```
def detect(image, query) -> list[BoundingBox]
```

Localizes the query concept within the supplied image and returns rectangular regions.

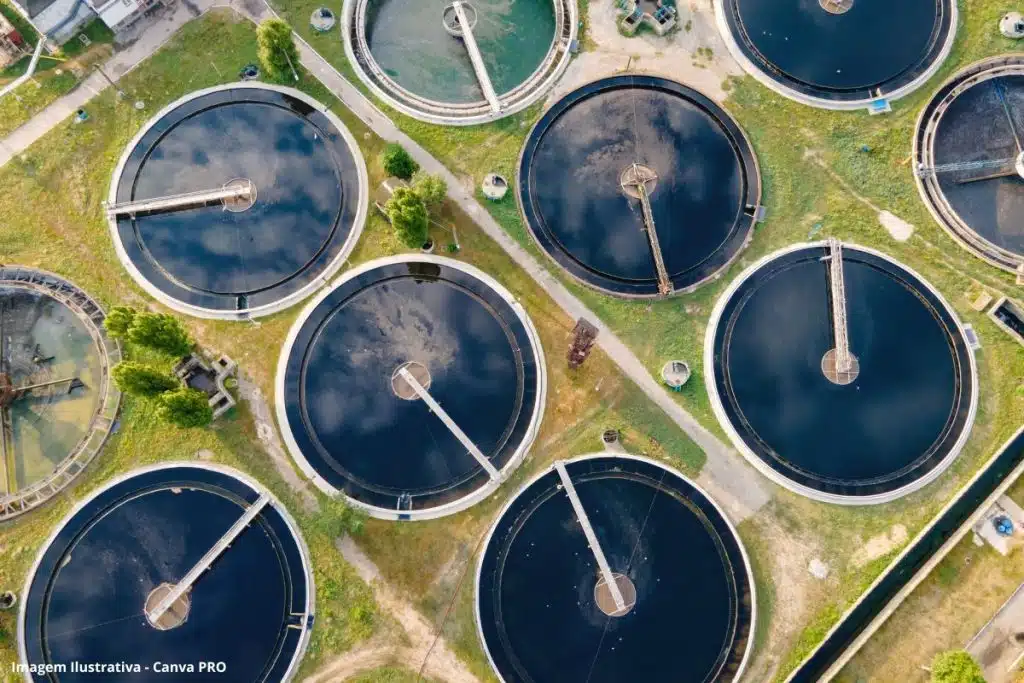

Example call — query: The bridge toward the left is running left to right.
[106,182,254,219]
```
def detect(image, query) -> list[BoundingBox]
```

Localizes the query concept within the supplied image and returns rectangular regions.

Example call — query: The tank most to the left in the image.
[0,266,123,522]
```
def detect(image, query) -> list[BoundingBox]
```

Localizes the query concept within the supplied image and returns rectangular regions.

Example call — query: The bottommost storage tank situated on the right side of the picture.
[475,453,757,683]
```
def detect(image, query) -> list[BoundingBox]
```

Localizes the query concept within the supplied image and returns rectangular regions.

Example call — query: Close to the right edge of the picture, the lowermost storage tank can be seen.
[704,237,979,506]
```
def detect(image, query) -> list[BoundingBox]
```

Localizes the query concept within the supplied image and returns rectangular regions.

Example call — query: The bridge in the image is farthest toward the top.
[452,2,503,117]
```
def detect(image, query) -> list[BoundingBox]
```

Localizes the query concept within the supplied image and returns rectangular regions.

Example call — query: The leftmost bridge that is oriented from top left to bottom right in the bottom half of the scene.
[399,366,504,486]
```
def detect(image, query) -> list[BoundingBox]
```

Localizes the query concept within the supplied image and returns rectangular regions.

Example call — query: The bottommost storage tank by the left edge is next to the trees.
[17,462,317,683]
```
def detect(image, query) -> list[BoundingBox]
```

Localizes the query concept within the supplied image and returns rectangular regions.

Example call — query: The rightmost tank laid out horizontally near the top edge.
[711,0,958,109]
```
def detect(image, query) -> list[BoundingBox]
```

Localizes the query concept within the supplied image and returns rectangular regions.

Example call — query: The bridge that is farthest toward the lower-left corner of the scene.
[146,491,276,623]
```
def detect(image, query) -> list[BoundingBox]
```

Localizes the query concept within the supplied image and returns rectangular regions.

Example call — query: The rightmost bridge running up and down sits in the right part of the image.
[815,237,853,373]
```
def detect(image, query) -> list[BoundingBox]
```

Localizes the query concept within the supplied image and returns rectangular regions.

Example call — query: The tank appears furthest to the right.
[910,52,1024,291]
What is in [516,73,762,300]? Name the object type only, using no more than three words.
storage tank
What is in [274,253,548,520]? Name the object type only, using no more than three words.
storage tank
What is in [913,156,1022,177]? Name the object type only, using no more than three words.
bridge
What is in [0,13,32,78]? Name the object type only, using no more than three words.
building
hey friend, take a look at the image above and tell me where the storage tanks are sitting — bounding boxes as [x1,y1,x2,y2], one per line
[0,266,123,522]
[17,462,317,683]
[516,73,762,300]
[704,237,979,506]
[910,52,1024,291]
[344,0,576,125]
[711,0,958,109]
[106,81,368,320]
[475,453,757,683]
[274,253,548,520]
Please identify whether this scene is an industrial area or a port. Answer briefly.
industrial area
